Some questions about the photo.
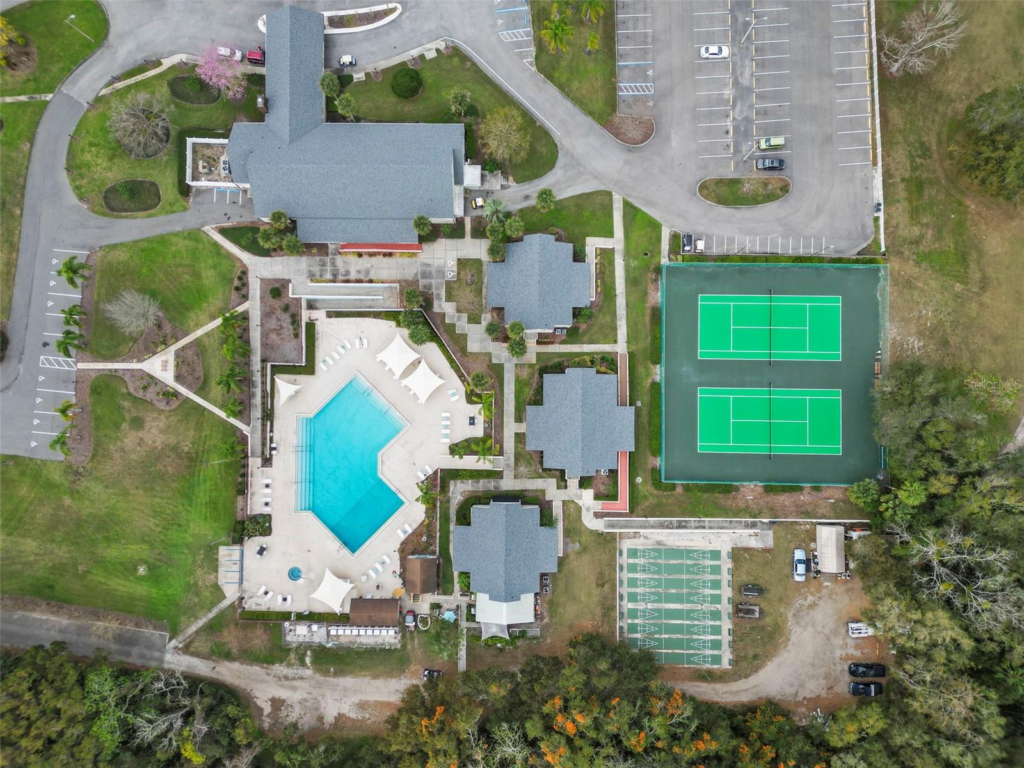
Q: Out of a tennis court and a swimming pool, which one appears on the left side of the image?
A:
swimming pool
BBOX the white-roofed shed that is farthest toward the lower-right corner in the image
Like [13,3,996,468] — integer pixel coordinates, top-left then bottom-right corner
[811,524,845,582]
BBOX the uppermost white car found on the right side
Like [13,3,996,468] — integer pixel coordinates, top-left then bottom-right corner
[701,42,730,57]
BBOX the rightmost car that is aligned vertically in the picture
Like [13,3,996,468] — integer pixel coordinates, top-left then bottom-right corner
[794,551,808,581]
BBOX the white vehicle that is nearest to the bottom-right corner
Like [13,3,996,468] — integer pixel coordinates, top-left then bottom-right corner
[849,623,886,639]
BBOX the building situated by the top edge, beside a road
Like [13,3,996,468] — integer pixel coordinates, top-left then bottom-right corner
[229,6,507,253]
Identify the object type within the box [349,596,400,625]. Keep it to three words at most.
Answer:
shed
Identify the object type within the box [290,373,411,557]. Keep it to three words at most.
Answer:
swimming pool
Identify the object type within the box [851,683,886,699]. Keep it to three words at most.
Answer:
vehicle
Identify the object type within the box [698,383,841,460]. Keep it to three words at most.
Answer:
tennis court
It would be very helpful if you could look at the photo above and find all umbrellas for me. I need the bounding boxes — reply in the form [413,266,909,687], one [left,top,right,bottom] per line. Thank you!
[443,609,456,622]
[394,586,404,598]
